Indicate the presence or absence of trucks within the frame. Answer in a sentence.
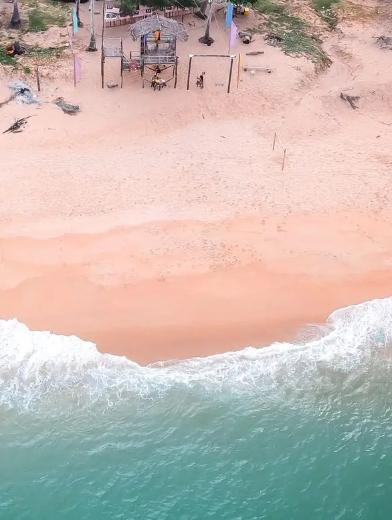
No, there is no truck in the image.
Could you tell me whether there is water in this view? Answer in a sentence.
Yes, some water is visible.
